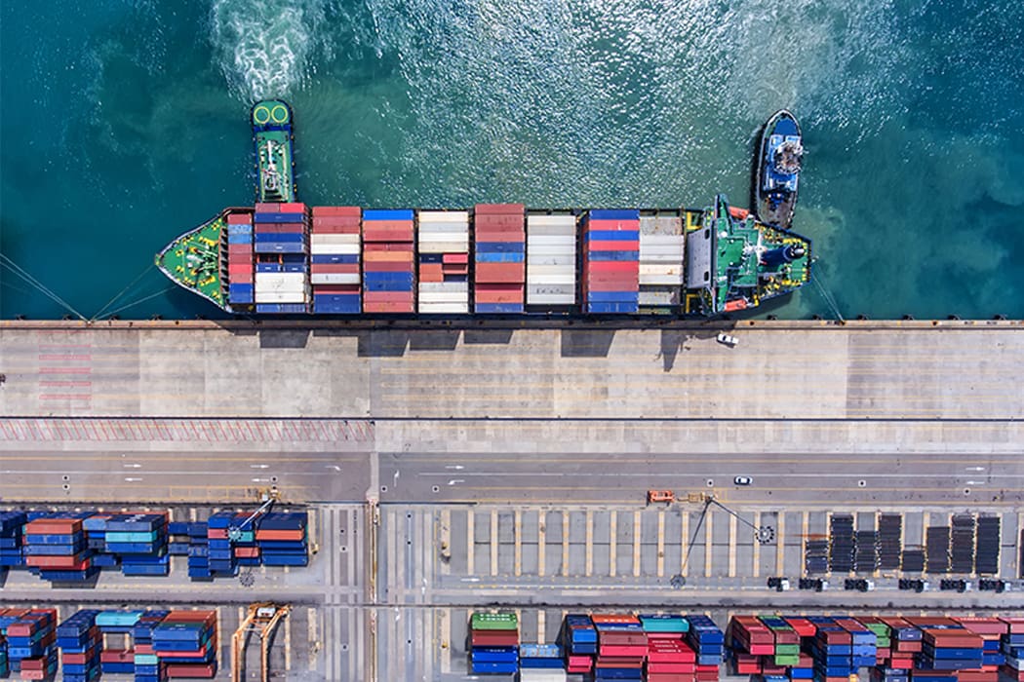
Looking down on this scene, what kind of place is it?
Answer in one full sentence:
This image shows a port.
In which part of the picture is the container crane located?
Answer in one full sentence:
The container crane is located in the bottom left region of the scene.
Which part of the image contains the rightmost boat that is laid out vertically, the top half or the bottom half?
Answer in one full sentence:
You can find the rightmost boat that is laid out vertically in the top half.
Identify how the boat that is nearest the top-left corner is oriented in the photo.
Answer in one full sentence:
The boat that is nearest the top-left corner is oriented vertically.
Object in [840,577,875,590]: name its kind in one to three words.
vehicle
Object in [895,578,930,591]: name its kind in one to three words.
vehicle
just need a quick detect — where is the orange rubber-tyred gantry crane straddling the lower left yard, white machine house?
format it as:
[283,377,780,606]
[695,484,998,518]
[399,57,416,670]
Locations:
[231,606,288,682]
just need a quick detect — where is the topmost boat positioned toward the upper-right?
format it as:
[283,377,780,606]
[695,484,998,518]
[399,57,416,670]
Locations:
[755,109,816,227]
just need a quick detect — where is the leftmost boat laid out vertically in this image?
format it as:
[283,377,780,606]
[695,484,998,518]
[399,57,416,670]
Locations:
[251,99,296,206]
